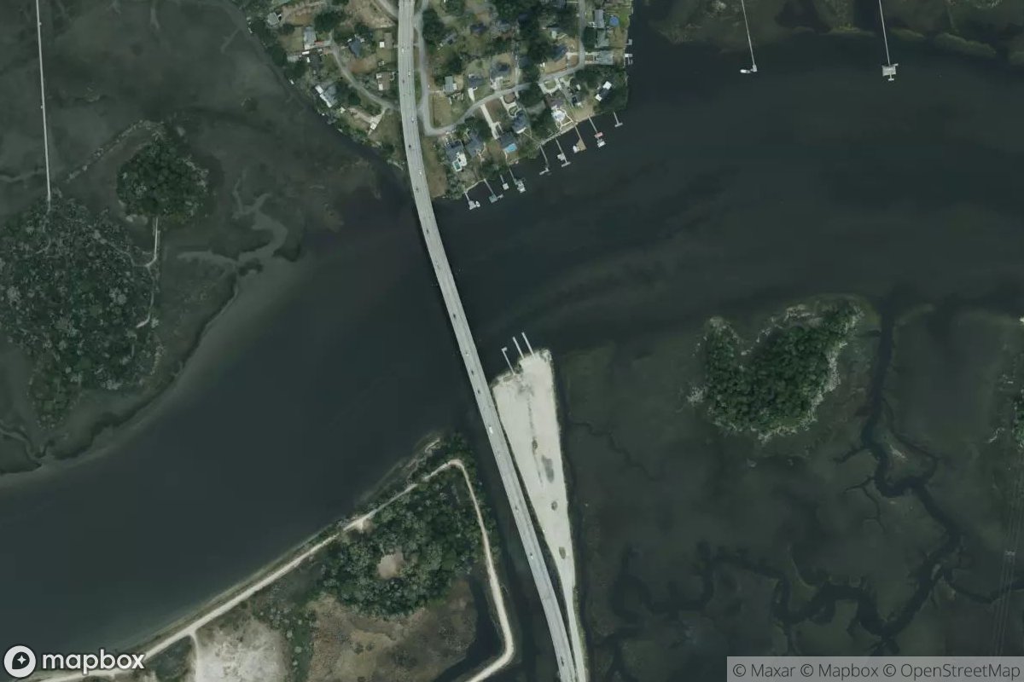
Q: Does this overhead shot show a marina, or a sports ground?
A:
marina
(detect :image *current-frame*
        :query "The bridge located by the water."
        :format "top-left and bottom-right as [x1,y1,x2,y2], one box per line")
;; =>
[399,0,578,682]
